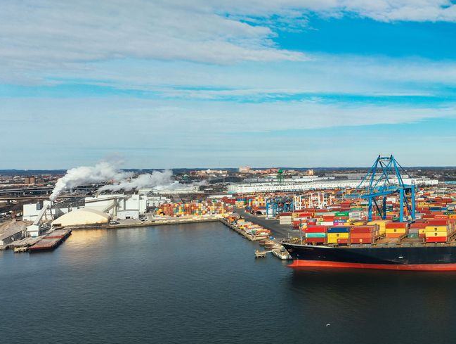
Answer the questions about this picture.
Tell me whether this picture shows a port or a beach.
port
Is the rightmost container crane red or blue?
blue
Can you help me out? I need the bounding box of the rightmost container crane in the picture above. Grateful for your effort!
[356,148,419,220]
